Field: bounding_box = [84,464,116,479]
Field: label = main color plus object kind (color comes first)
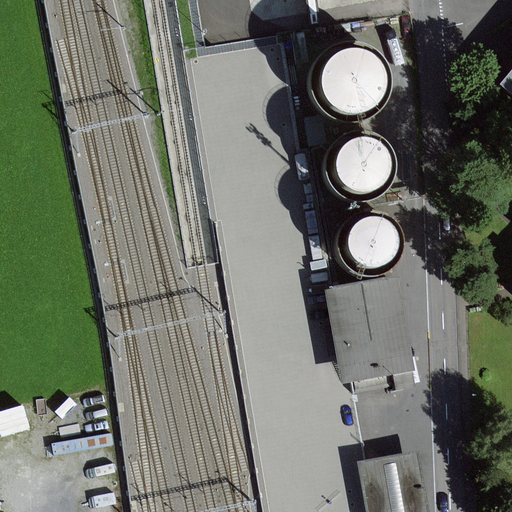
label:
white camper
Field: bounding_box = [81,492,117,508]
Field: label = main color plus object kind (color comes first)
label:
white camper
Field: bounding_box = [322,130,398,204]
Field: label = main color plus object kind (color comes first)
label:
white storage tank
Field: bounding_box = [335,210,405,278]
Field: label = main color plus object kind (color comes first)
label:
white storage tank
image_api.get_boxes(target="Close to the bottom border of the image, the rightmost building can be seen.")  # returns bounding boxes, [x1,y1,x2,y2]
[358,452,427,512]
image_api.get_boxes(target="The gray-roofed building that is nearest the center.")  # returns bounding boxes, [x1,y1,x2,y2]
[324,276,415,391]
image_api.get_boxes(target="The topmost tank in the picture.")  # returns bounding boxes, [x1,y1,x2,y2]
[308,42,393,126]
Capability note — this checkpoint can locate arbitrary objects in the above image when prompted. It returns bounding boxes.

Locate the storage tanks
[322,130,398,204]
[308,42,393,126]
[335,210,405,278]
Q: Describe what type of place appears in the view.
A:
industrial area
